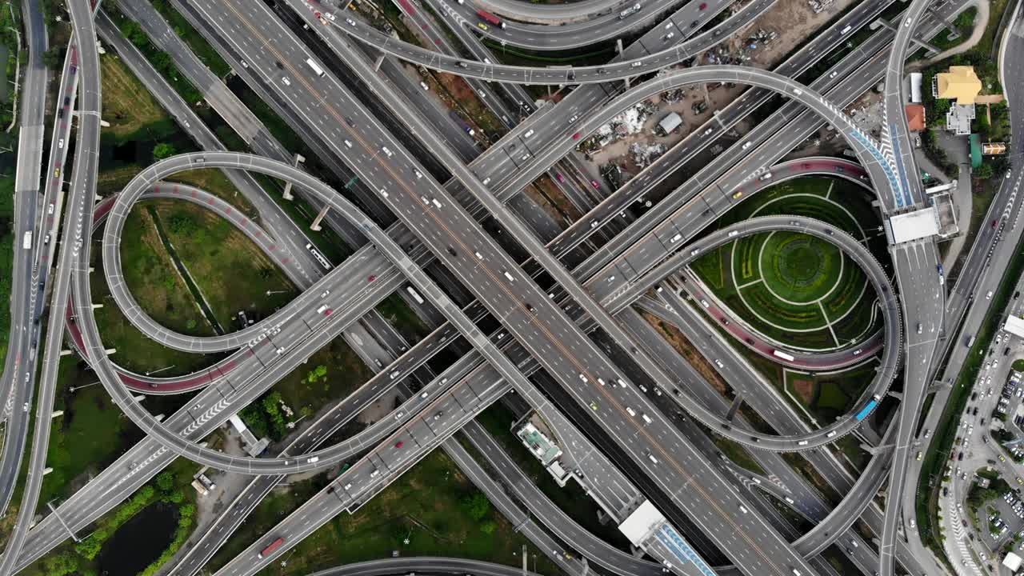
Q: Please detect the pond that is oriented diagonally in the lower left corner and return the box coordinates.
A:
[98,503,180,576]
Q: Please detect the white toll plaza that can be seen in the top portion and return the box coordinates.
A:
[885,200,940,253]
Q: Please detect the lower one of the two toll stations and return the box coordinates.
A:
[612,491,670,548]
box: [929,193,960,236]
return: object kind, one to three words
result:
building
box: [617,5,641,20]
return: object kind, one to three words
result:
vehicle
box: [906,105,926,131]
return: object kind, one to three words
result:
house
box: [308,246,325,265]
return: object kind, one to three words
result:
vehicle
